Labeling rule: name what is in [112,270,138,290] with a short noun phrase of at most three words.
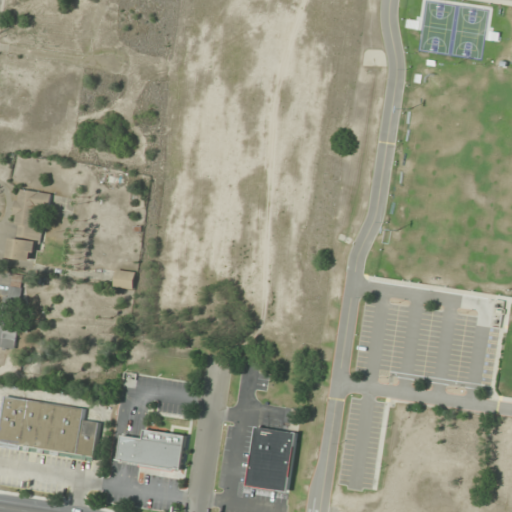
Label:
barn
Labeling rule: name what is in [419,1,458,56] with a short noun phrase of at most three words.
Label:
basketball court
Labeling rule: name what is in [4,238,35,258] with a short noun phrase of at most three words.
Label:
house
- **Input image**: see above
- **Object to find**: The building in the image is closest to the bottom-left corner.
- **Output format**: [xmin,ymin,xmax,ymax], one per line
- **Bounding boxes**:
[0,396,102,460]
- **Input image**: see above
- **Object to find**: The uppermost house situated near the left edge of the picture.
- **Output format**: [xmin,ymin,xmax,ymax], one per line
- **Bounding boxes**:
[11,188,54,242]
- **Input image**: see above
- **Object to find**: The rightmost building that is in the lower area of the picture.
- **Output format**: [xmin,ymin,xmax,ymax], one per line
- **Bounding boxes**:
[244,427,297,490]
